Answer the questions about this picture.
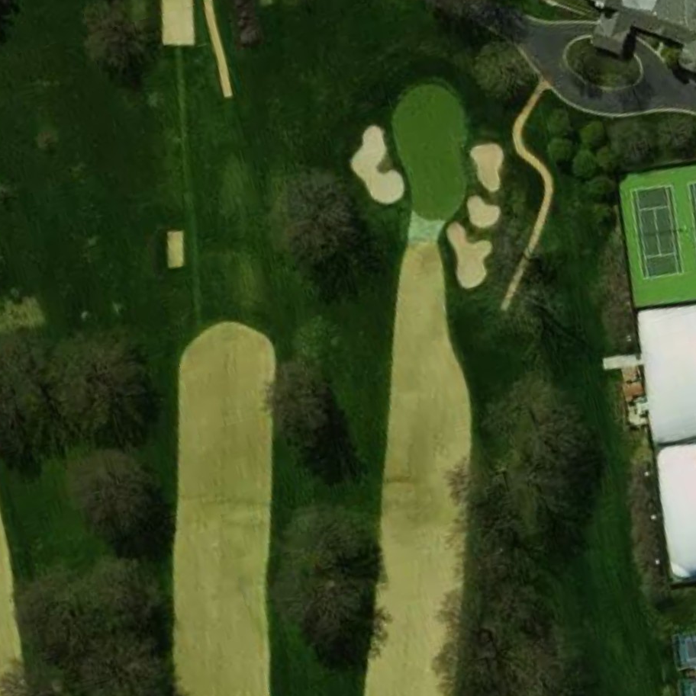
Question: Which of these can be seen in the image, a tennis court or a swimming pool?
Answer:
tennis court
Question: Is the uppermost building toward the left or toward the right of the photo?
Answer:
right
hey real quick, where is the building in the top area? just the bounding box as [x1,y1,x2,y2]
[577,0,696,76]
